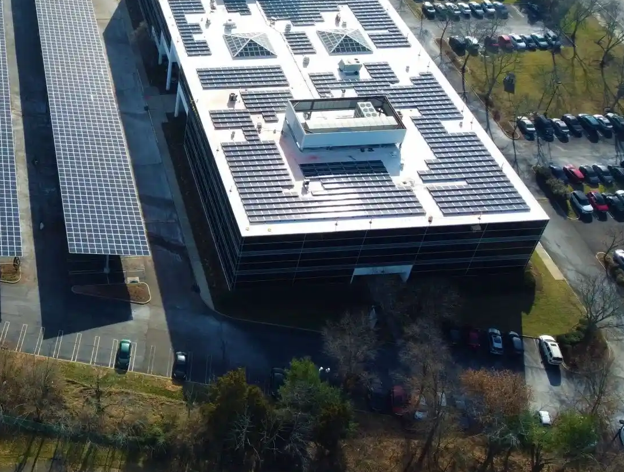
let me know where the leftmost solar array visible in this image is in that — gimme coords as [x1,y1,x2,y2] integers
[168,0,210,57]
